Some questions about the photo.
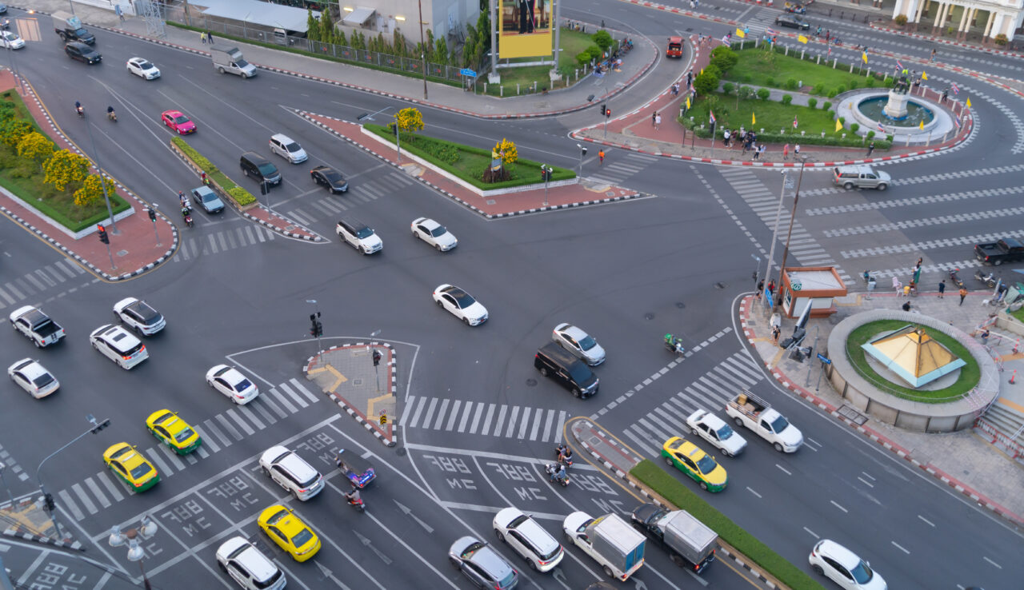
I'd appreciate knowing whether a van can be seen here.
Yes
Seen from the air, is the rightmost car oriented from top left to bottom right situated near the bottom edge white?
Yes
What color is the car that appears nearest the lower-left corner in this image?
yellow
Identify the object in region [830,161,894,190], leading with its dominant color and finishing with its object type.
gray truck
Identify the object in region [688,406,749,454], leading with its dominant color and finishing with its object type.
white car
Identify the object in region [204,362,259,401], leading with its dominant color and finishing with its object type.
white car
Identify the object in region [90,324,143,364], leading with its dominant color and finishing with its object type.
white vehicle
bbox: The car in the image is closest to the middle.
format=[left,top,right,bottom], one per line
[433,284,488,325]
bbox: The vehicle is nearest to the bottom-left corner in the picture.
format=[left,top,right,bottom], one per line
[102,440,160,489]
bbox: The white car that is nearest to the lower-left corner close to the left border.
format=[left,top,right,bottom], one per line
[5,356,58,395]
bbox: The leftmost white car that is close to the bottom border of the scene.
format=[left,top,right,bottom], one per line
[214,533,282,590]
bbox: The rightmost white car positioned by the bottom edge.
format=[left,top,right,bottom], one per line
[808,535,882,590]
